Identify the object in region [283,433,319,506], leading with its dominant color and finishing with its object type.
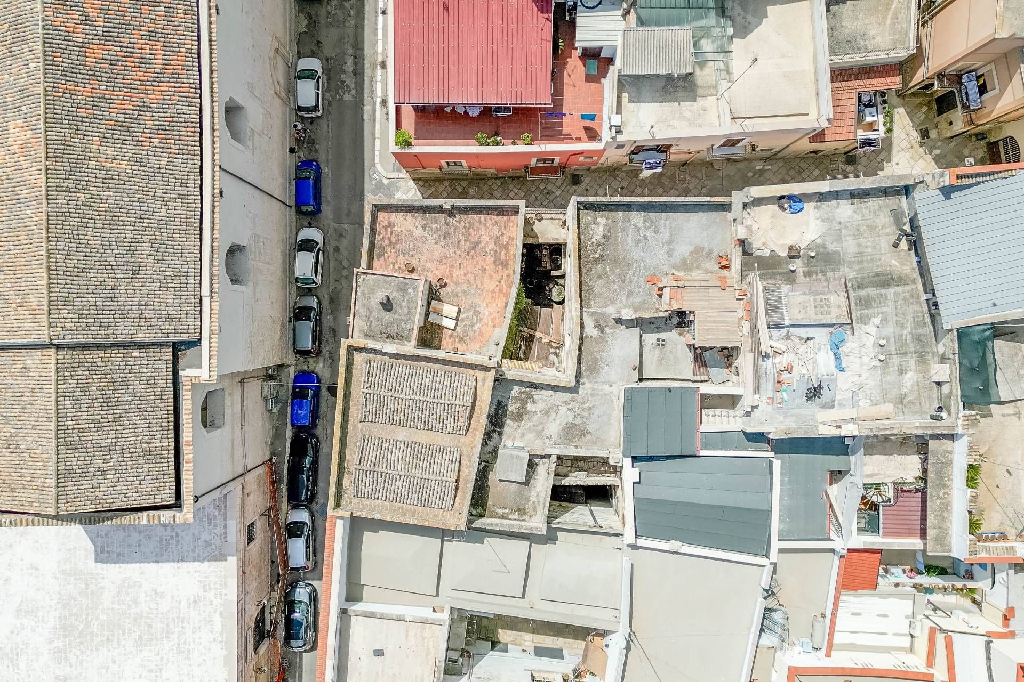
black car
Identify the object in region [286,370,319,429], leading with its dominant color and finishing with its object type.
blue car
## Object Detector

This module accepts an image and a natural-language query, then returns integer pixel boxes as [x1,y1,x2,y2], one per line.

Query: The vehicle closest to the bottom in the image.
[281,580,316,654]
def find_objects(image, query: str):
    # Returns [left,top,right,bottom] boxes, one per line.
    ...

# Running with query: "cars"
[291,58,324,118]
[286,370,319,429]
[290,227,324,289]
[281,580,316,654]
[289,295,323,358]
[291,159,323,216]
[285,506,316,572]
[283,433,319,506]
